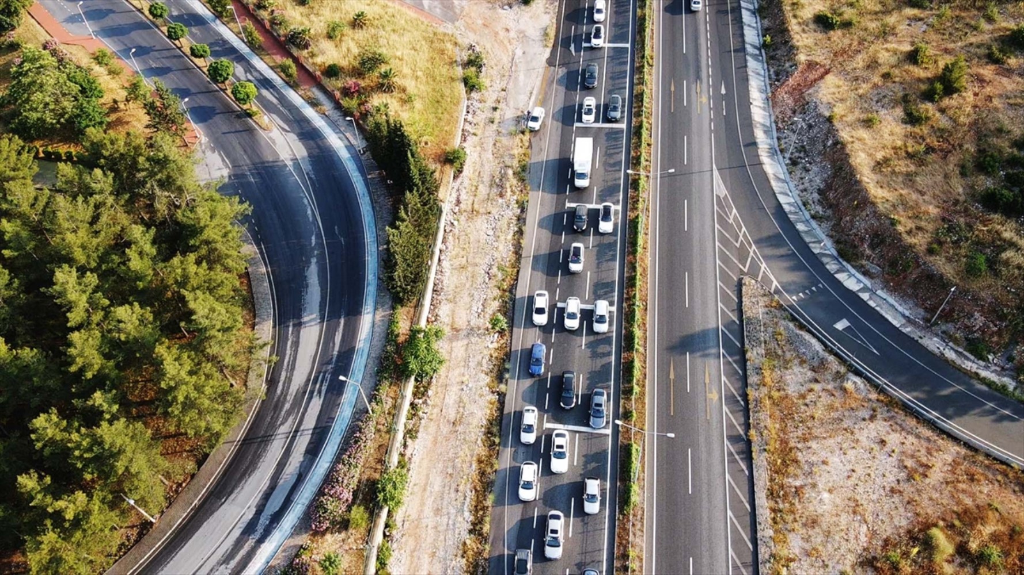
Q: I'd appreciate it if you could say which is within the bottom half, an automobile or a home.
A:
automobile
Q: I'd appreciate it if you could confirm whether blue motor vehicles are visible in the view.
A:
Yes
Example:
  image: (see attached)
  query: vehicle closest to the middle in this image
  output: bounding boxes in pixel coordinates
[530,291,550,327]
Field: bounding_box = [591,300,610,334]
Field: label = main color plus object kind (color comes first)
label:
white car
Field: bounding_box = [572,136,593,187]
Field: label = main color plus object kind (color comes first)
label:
white truck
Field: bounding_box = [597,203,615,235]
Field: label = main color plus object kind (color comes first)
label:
white car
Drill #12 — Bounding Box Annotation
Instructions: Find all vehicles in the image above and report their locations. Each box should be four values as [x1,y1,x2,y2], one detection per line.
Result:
[527,341,548,380]
[583,64,599,88]
[588,389,609,431]
[567,242,586,275]
[690,0,702,10]
[592,0,606,21]
[558,370,578,412]
[607,95,623,121]
[591,300,610,334]
[562,297,581,331]
[525,107,546,131]
[580,97,596,124]
[518,404,539,448]
[516,458,539,505]
[530,291,550,327]
[549,431,570,476]
[581,475,602,519]
[572,136,593,187]
[571,202,589,234]
[543,511,565,562]
[590,24,605,47]
[511,547,533,575]
[597,203,615,235]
